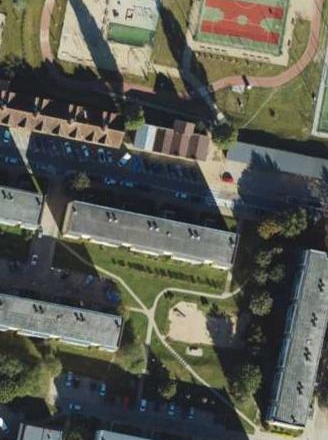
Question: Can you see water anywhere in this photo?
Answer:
No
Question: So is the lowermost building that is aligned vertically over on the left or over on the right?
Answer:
right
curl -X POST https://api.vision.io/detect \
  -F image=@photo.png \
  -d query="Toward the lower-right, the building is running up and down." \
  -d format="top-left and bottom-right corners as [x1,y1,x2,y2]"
[270,249,328,426]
